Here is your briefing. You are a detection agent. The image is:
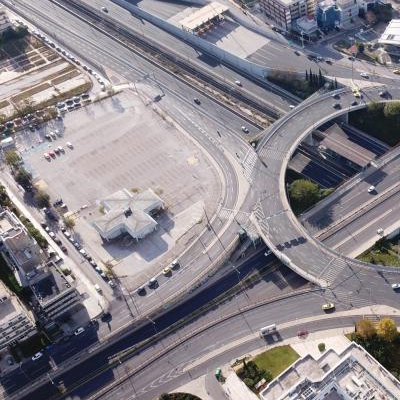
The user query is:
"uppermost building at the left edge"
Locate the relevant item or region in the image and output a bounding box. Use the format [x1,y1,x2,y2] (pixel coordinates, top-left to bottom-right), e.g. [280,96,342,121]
[0,208,38,249]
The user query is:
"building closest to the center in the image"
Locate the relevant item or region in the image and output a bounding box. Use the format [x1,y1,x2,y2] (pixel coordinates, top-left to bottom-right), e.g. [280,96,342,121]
[95,189,166,245]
